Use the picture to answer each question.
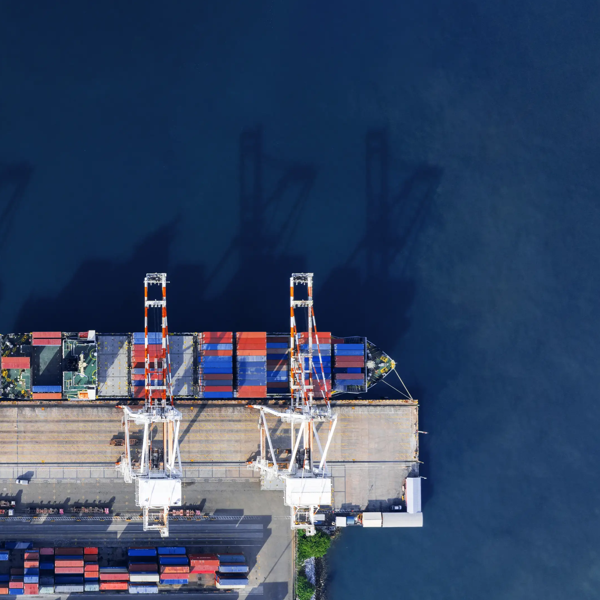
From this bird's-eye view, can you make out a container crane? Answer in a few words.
Yes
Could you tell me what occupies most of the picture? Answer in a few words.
water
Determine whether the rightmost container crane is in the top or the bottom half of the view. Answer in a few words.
bottom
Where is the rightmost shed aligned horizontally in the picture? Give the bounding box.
[378,512,423,527]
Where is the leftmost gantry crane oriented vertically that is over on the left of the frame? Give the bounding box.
[112,273,190,538]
